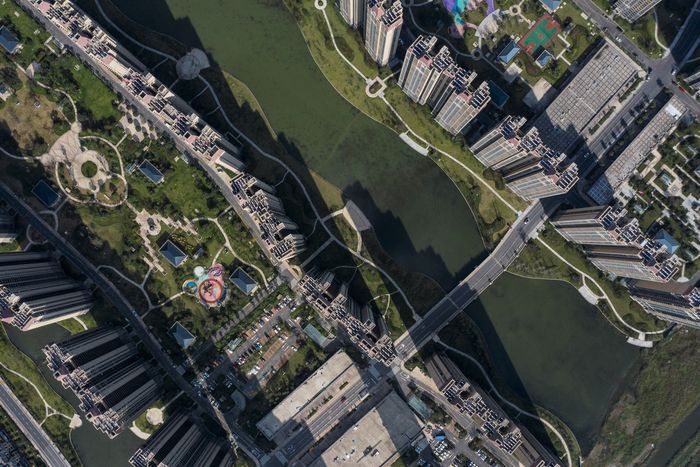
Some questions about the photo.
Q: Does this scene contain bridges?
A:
Yes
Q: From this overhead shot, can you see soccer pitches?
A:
No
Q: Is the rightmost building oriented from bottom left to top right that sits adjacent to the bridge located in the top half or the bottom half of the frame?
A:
top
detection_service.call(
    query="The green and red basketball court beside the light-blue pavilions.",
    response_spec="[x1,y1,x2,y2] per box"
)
[520,13,561,55]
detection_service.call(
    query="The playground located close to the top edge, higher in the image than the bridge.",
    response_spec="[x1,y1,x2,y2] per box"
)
[442,0,494,39]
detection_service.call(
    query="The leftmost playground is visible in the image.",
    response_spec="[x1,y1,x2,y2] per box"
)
[183,263,228,306]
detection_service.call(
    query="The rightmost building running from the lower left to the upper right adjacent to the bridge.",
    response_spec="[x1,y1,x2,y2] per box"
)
[584,95,689,206]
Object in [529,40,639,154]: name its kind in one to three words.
building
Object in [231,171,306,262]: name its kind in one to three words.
building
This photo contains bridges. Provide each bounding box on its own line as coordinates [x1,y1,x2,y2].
[398,200,554,362]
